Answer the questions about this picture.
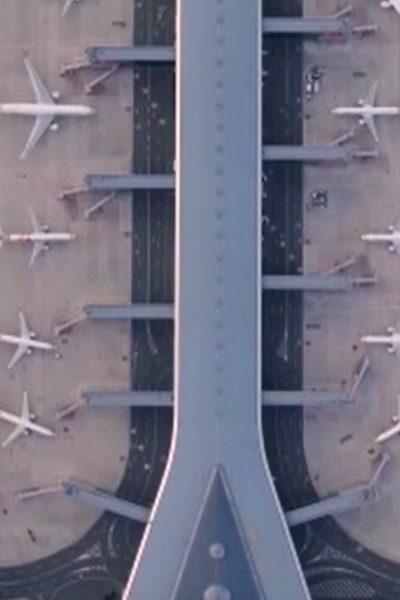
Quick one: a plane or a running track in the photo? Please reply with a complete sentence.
Of the two, only a plane appears.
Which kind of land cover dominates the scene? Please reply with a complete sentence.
What you mostly see from above here is paved ground.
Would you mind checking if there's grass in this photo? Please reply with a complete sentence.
No, no grass is visible.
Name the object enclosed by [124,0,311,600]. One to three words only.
building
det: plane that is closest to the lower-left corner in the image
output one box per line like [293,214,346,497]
[0,389,55,447]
